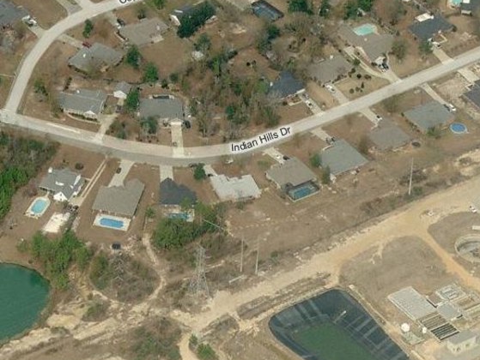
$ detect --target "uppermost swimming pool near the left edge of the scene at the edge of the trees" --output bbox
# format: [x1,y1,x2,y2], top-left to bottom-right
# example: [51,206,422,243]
[23,196,54,217]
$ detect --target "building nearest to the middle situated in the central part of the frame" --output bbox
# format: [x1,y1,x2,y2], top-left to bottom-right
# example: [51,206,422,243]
[211,174,261,204]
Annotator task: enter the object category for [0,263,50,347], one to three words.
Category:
pond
